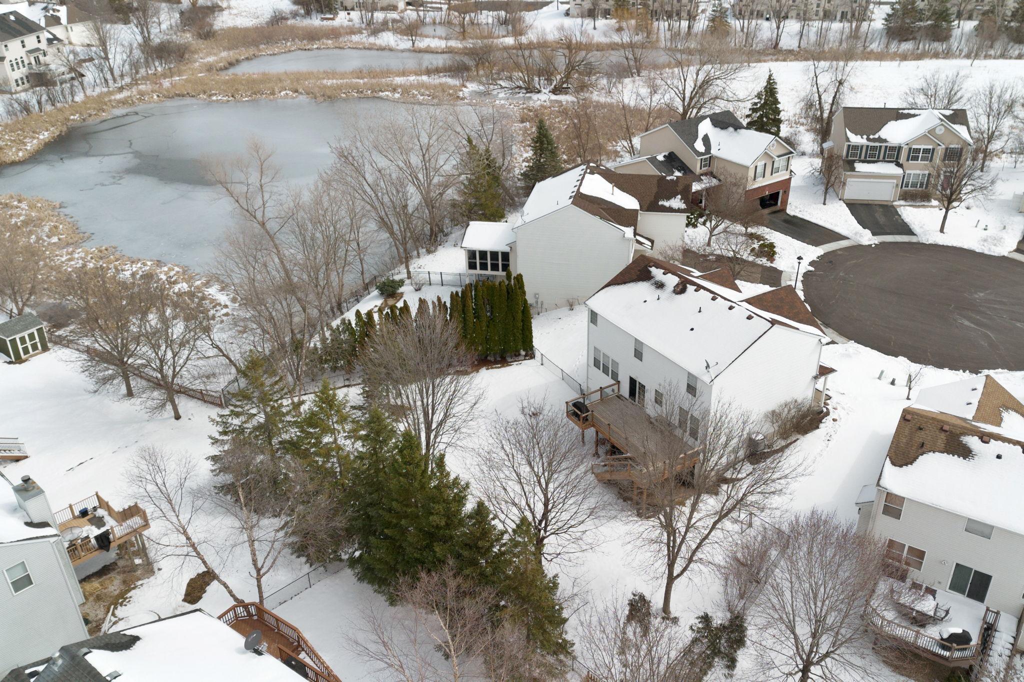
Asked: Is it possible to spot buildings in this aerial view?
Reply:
Yes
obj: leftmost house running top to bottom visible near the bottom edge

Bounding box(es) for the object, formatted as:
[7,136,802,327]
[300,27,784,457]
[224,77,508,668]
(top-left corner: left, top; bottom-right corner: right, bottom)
[0,471,90,682]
